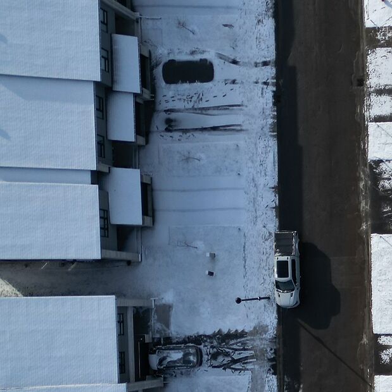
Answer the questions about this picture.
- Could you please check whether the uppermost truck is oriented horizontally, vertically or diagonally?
vertically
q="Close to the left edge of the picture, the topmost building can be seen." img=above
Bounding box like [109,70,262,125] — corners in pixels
[0,0,154,106]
